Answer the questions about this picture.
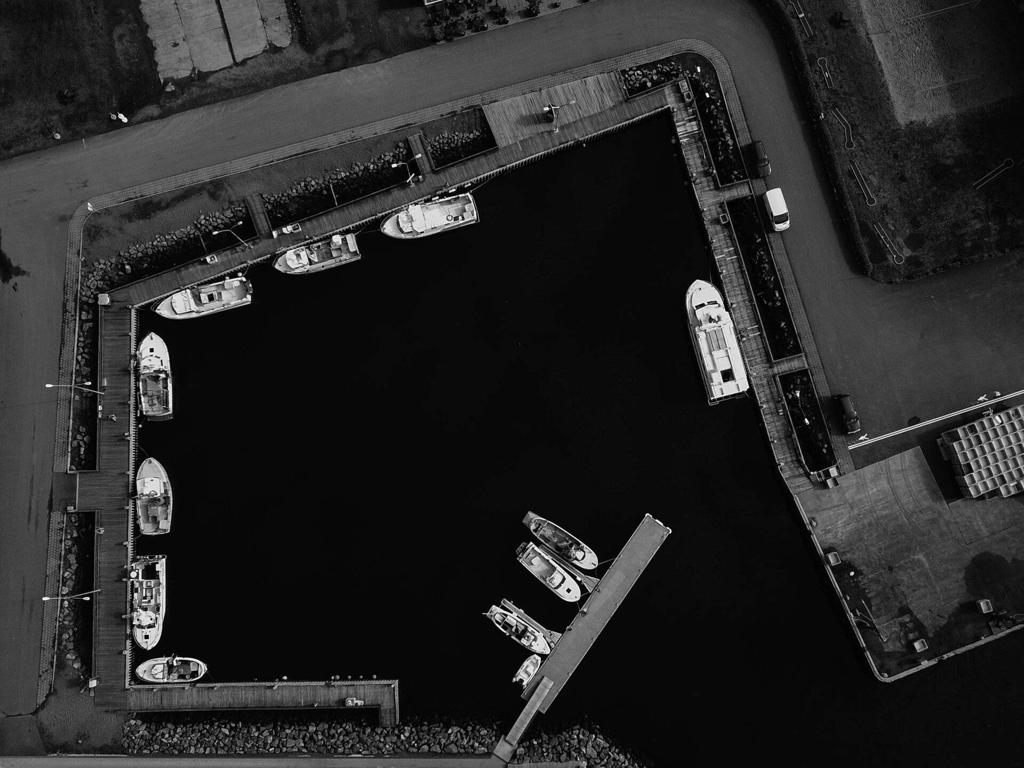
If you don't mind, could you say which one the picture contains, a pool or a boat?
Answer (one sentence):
The image shows a boat.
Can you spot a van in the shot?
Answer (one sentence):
Yes, the frame does contain a van.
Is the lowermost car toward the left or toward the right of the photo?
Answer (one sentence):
The lowermost car sits on the right side.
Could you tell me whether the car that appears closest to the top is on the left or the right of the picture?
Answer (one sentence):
The car that appears closest to the top appears in the right half of the scene.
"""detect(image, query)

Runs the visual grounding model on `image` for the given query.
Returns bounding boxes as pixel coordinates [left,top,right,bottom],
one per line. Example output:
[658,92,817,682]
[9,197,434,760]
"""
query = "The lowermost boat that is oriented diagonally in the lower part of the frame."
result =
[513,654,541,688]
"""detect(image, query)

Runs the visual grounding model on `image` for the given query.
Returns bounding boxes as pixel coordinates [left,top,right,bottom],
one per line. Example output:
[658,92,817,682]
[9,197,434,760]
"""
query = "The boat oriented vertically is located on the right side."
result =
[686,279,749,405]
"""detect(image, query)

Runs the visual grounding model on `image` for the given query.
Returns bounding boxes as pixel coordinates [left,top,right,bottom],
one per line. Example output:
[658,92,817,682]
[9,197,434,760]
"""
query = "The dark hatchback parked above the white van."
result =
[749,142,772,178]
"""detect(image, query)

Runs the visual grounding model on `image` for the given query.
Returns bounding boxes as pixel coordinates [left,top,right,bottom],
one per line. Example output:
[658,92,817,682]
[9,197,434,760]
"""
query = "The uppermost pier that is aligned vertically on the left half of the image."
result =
[67,304,145,708]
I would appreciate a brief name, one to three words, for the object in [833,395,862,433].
car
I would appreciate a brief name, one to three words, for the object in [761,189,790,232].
van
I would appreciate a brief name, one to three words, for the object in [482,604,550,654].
boat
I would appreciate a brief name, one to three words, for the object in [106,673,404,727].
pier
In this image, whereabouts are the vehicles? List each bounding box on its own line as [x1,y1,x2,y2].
[761,189,790,232]
[833,395,862,433]
[749,142,772,178]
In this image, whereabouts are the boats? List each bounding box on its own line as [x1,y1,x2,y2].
[272,234,361,273]
[482,604,550,654]
[522,511,598,570]
[381,184,479,239]
[151,273,254,318]
[135,653,209,682]
[516,542,581,602]
[686,279,749,405]
[131,555,169,650]
[136,332,175,420]
[513,654,541,688]
[132,458,175,535]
